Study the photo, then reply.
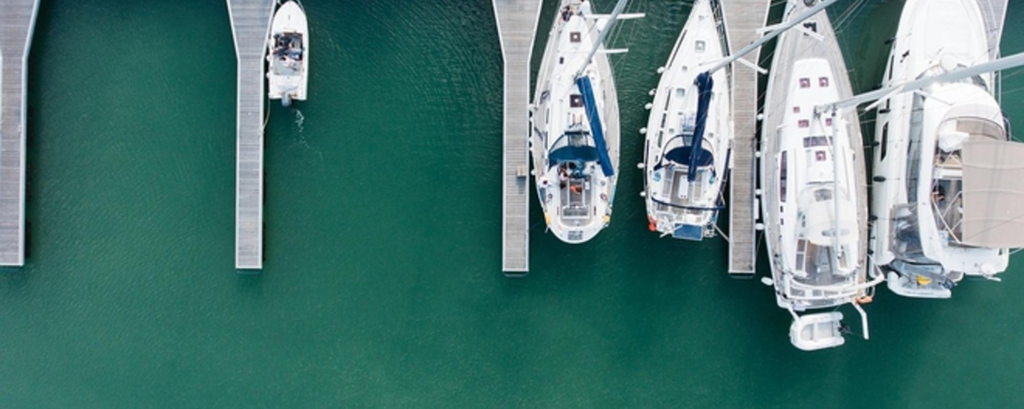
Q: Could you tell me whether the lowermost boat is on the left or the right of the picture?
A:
right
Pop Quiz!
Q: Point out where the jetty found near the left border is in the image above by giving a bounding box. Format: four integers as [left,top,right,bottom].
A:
[0,0,40,270]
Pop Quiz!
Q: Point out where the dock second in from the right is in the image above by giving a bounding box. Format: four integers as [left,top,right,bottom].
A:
[719,0,771,277]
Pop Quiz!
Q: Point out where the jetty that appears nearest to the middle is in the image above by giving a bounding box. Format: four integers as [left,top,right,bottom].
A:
[493,0,542,276]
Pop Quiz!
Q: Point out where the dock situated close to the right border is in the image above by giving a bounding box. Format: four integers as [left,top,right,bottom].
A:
[981,0,1011,109]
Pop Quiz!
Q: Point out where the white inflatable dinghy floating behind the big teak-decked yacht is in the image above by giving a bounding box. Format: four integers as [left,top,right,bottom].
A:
[791,313,848,350]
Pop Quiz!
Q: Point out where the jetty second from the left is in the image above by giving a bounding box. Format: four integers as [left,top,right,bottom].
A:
[227,0,277,273]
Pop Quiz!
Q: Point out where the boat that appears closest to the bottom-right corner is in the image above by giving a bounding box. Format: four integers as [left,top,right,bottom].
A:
[886,263,957,297]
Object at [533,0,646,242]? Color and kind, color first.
white boat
